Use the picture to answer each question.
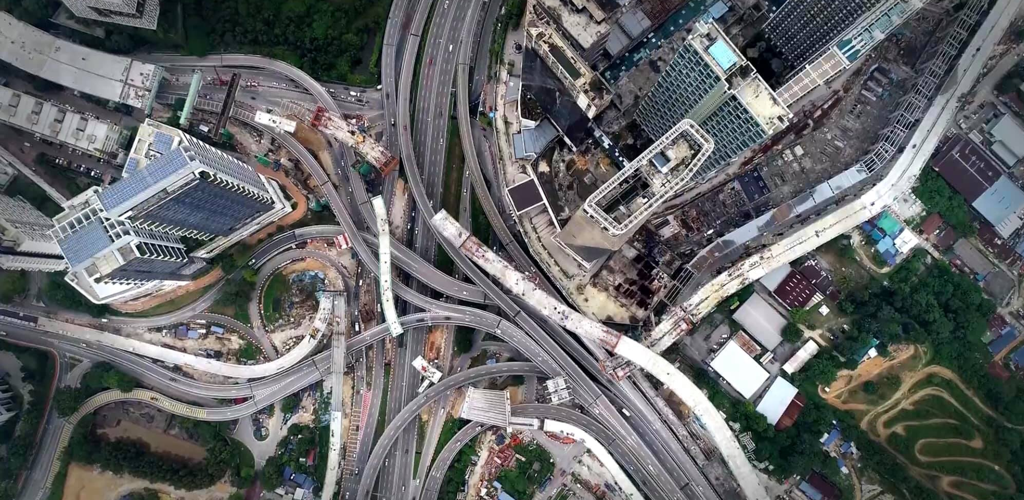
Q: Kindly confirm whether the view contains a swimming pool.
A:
Yes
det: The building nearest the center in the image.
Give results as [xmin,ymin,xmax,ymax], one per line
[507,178,545,216]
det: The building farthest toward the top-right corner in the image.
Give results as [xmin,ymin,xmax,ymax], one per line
[992,85,1024,117]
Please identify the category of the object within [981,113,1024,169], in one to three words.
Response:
building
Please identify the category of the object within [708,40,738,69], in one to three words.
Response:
swimming pool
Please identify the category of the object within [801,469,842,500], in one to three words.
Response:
shed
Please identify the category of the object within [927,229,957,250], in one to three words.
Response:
house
